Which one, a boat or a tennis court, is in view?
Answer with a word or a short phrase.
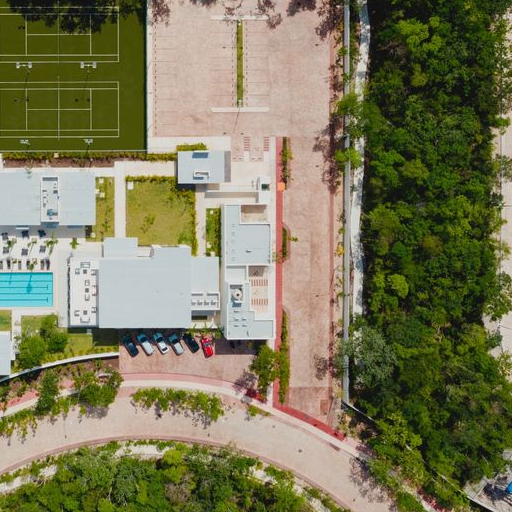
tennis court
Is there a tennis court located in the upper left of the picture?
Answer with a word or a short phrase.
Yes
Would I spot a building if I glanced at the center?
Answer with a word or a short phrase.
Yes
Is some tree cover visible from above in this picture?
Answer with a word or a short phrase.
Yes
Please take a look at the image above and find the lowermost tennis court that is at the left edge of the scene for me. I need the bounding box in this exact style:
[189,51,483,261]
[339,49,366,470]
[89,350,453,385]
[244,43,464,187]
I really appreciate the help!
[0,72,146,153]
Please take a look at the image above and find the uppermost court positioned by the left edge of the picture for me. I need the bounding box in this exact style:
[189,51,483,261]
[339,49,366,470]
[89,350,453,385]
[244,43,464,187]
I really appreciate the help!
[0,0,146,72]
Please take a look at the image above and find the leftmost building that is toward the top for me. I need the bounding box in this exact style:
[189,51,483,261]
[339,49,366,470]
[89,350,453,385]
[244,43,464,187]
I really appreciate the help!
[0,172,94,228]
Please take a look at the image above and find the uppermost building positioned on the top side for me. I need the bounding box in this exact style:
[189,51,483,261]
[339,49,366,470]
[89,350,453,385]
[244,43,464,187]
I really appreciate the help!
[177,151,231,184]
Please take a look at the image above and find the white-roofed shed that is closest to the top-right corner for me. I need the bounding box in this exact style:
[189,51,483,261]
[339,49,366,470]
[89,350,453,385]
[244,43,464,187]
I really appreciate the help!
[255,177,270,203]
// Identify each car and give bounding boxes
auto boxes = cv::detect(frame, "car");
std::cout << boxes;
[181,331,201,355]
[121,333,140,357]
[199,335,215,356]
[151,331,170,355]
[135,331,155,355]
[166,331,185,356]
